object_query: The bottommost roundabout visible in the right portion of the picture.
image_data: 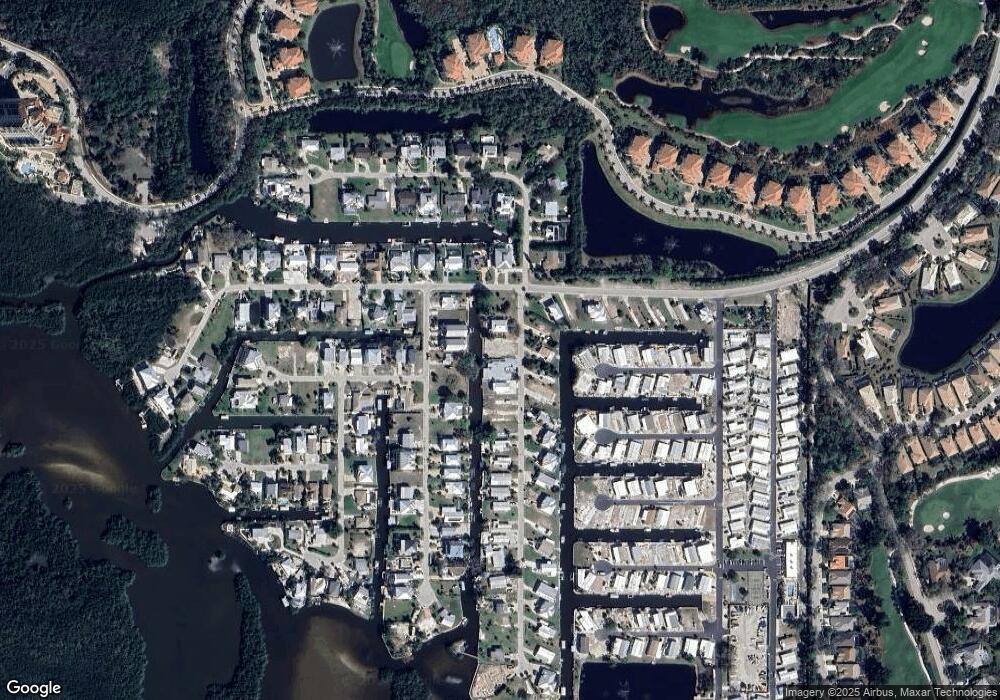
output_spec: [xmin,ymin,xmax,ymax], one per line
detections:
[823,282,867,324]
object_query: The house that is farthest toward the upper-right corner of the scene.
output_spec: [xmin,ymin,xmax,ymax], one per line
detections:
[928,95,959,124]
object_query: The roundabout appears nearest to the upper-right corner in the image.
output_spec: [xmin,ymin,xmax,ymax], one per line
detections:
[916,215,953,257]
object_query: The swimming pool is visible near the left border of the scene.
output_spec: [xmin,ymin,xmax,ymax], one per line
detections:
[18,157,60,180]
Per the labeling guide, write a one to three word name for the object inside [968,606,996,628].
house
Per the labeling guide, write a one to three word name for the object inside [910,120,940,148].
house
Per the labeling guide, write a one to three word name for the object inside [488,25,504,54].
swimming pool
